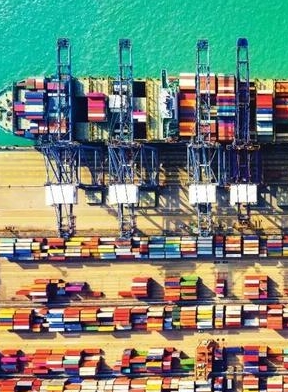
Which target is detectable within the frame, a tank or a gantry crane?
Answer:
gantry crane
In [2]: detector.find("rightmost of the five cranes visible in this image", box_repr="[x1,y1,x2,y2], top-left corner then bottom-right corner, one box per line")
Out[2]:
[226,38,267,238]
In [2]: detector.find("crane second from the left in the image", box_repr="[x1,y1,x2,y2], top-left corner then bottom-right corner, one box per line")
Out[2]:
[99,39,166,239]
